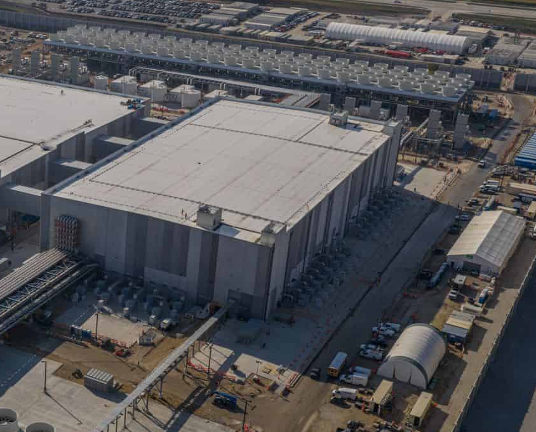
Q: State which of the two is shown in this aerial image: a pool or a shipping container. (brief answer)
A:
shipping container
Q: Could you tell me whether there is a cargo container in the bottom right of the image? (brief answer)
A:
Yes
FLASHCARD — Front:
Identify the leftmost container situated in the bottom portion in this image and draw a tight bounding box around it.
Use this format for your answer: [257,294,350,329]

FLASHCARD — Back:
[369,380,395,413]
